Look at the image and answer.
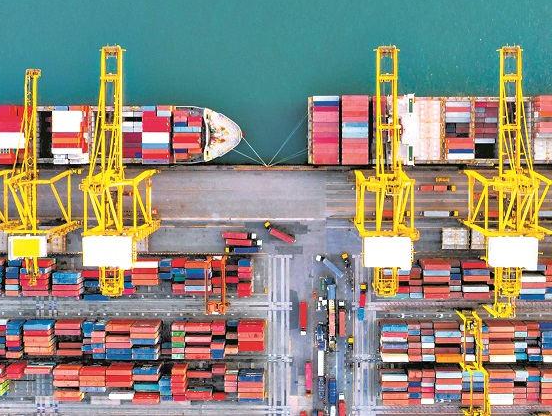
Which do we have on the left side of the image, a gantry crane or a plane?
gantry crane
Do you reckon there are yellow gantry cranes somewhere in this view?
Yes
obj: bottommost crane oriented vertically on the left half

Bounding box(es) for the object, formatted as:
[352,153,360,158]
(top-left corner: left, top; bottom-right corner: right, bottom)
[203,255,231,316]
